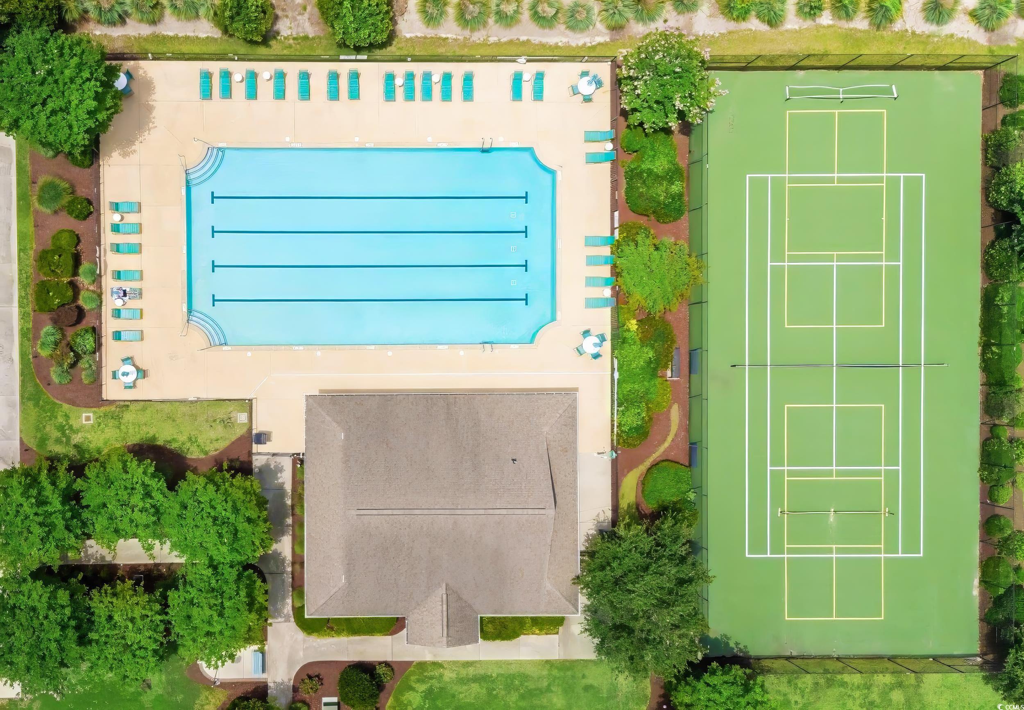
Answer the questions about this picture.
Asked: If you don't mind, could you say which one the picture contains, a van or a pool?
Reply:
pool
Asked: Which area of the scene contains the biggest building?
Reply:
bottom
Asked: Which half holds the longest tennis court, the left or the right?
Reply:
right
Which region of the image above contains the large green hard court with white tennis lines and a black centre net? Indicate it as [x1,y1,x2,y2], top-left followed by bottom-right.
[689,70,982,658]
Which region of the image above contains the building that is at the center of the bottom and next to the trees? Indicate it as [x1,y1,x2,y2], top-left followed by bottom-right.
[304,392,580,648]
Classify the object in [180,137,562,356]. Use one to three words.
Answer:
swimming pool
